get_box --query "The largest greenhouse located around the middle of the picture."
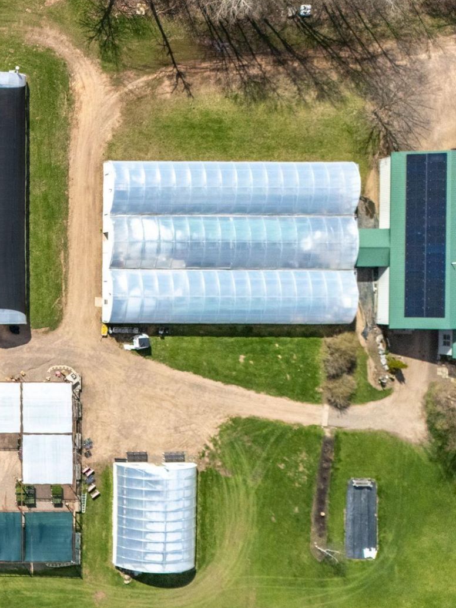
[99,161,368,323]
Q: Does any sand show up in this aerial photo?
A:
No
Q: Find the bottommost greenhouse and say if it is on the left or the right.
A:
left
